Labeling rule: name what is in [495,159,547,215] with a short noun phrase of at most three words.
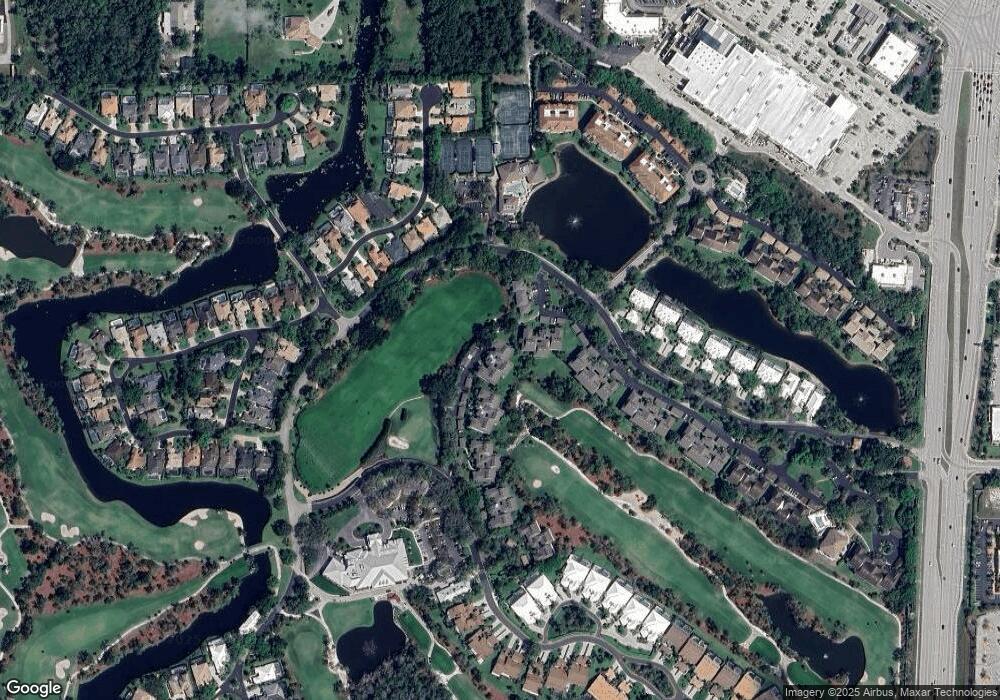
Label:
building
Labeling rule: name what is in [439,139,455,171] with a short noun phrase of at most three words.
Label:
tennis court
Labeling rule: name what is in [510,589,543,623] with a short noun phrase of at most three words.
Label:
house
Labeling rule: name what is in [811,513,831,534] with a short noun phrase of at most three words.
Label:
swimming pool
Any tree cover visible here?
Yes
